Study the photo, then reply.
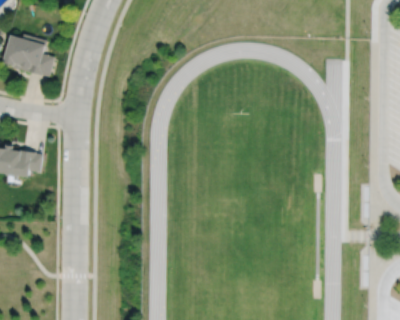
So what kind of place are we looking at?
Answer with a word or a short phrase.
sports ground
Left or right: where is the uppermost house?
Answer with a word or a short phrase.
left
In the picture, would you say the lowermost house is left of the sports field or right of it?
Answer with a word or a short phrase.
to the left of it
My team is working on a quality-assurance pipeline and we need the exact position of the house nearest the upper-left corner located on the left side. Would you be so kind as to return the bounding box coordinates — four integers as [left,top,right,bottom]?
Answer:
[4,34,53,80]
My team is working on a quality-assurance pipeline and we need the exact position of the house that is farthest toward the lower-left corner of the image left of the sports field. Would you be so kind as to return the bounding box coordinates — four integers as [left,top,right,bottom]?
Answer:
[0,145,42,178]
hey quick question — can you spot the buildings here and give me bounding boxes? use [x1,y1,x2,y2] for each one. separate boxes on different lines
[4,34,53,80]
[0,145,42,178]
